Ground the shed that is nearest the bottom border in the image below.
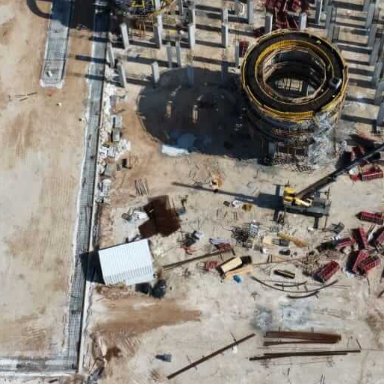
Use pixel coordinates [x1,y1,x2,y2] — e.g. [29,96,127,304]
[102,243,154,289]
